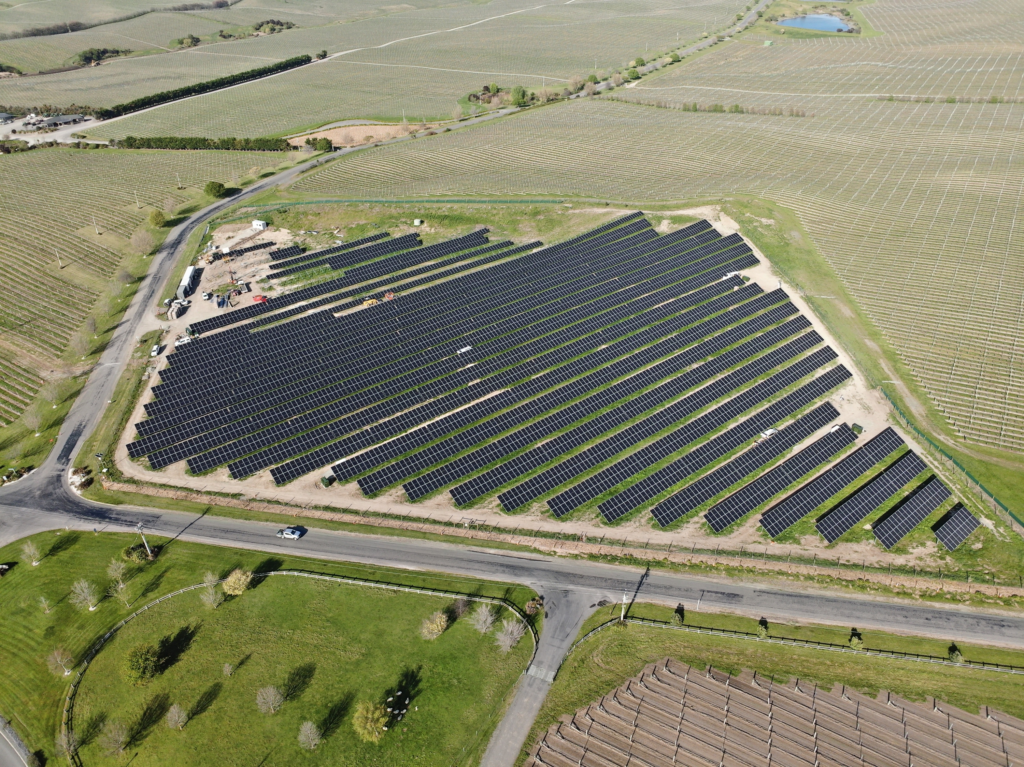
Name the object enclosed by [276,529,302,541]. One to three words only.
vehicle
